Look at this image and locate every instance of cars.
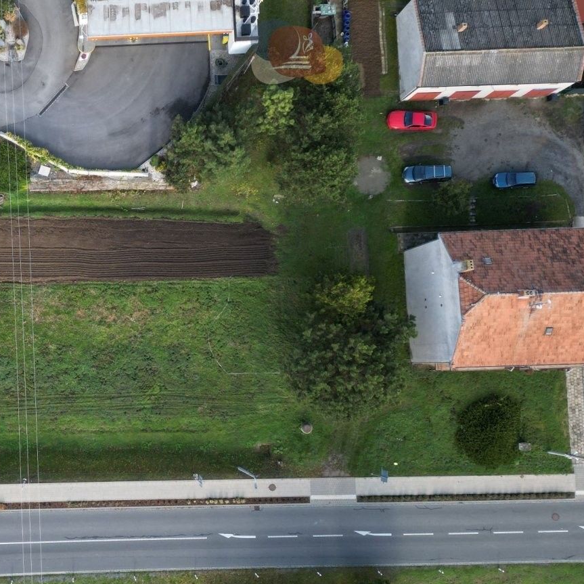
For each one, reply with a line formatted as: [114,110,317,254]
[386,106,439,131]
[493,167,542,190]
[402,162,456,185]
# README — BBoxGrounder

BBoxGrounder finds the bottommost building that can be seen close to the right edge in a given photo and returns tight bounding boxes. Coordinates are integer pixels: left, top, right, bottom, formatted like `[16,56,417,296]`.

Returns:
[403,230,584,368]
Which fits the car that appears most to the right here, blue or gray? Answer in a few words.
blue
